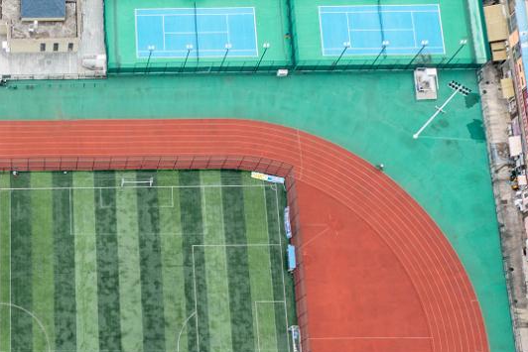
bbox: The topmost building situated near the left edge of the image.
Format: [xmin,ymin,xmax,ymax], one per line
[0,0,82,52]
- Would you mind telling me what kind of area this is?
sports ground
